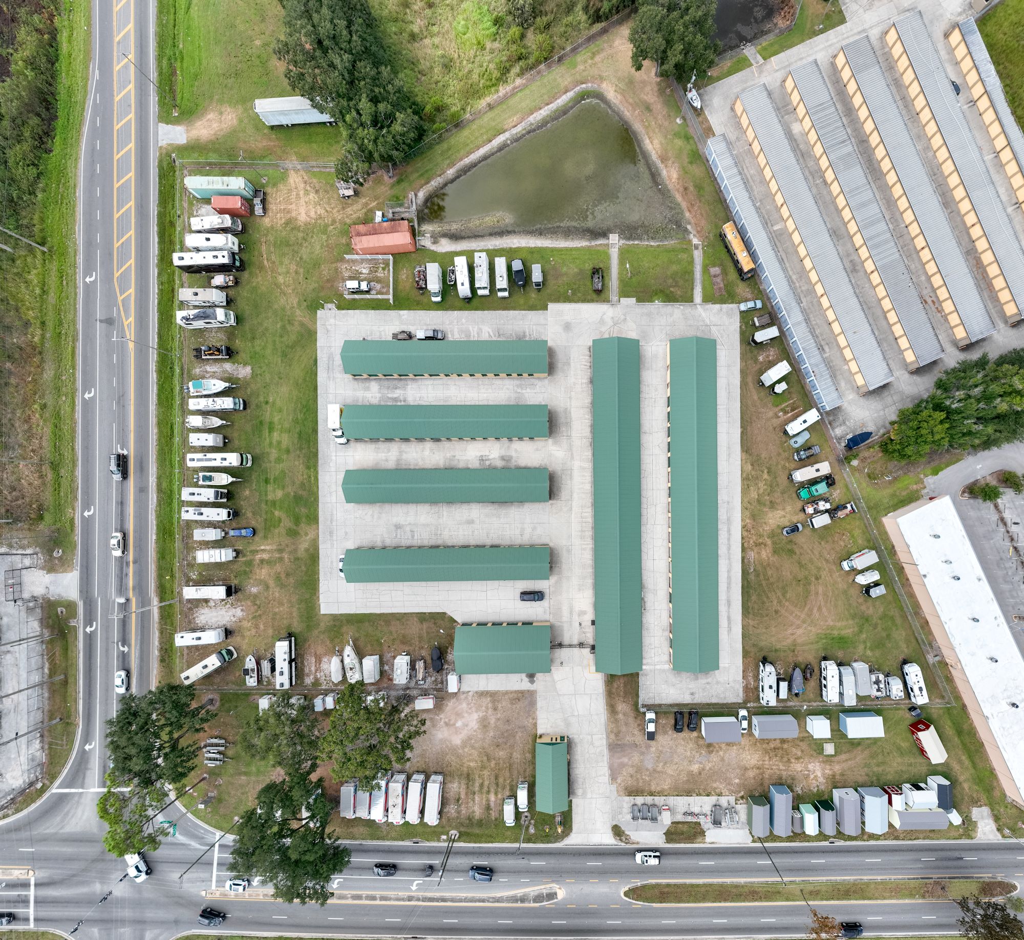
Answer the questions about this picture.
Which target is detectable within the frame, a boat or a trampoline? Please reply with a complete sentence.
Of the two, only a boat appears.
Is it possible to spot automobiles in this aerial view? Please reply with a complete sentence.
Yes, there is an automobile in the image.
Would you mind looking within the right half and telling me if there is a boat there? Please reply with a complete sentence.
Yes, a boat is visible within the right half.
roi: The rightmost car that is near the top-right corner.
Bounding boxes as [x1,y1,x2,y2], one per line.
[950,78,964,98]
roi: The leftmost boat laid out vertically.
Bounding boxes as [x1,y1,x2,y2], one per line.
[244,657,259,690]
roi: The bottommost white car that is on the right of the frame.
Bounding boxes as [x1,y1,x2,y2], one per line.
[635,850,660,866]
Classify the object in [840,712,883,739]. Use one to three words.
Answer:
shed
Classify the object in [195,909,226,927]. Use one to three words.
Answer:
car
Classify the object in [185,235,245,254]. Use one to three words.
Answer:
trailer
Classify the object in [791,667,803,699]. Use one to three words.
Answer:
boat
